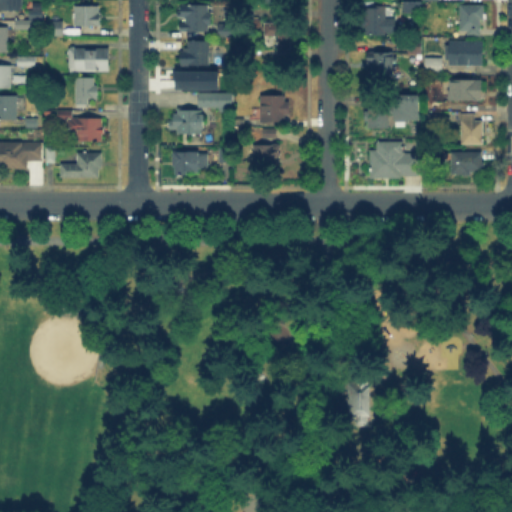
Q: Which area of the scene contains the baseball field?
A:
bottom left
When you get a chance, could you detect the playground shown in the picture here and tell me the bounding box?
[420,338,462,370]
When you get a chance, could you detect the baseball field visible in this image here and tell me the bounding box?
[0,298,109,512]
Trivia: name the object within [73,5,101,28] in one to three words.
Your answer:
house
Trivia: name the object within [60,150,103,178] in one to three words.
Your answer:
house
